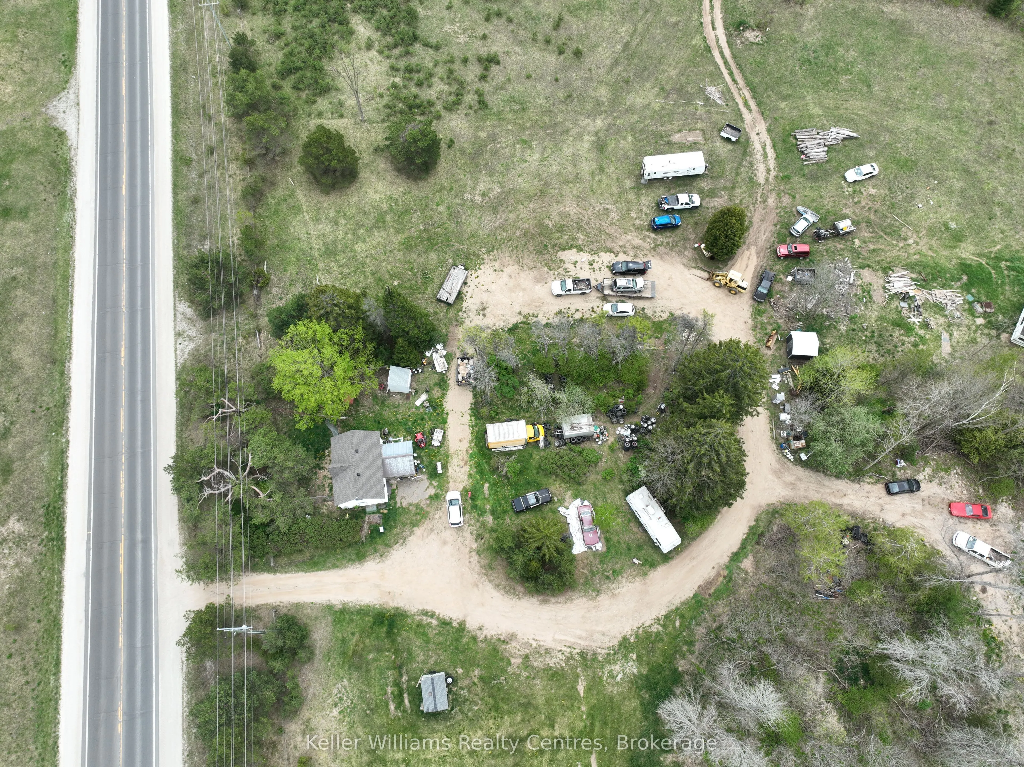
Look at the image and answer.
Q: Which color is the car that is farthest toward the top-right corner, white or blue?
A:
white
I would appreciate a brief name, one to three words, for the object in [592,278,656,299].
trailer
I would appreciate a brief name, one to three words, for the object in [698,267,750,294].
work vehicle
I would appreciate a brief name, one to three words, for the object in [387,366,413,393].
shed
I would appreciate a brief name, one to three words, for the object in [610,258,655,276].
car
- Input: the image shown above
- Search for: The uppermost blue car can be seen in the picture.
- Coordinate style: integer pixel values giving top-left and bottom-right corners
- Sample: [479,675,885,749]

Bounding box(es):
[649,213,682,231]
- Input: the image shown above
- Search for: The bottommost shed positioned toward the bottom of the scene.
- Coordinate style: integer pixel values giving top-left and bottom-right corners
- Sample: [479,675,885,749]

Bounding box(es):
[421,673,449,713]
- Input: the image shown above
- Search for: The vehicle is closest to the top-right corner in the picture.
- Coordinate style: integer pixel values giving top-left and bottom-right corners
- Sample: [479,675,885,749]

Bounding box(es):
[841,163,881,184]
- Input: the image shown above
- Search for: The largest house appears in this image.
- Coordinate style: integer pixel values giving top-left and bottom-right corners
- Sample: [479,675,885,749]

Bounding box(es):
[327,429,416,509]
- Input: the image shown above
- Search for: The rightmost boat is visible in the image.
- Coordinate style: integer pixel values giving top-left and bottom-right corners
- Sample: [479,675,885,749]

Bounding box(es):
[797,207,819,224]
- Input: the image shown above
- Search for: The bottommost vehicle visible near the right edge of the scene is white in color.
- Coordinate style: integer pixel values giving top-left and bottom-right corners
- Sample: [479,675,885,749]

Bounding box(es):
[951,532,1010,571]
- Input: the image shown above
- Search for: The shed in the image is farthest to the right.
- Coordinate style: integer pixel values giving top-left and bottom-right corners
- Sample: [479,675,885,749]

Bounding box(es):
[785,331,819,361]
